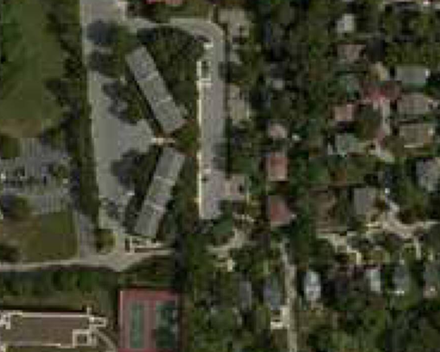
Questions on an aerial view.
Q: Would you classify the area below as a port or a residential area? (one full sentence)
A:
The area seen from above is a residential area.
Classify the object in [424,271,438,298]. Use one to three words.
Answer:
house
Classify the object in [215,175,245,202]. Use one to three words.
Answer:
house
